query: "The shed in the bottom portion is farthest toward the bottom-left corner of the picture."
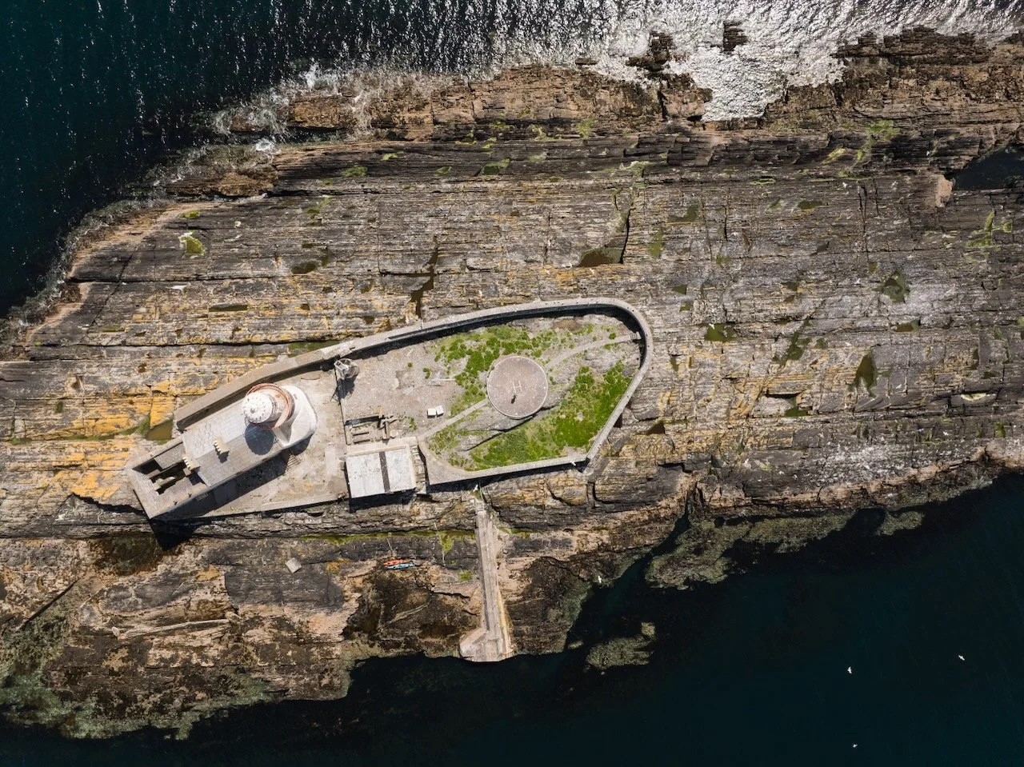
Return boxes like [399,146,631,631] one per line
[122,438,223,519]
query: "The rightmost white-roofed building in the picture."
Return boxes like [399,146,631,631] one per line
[336,436,419,497]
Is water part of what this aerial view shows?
Yes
